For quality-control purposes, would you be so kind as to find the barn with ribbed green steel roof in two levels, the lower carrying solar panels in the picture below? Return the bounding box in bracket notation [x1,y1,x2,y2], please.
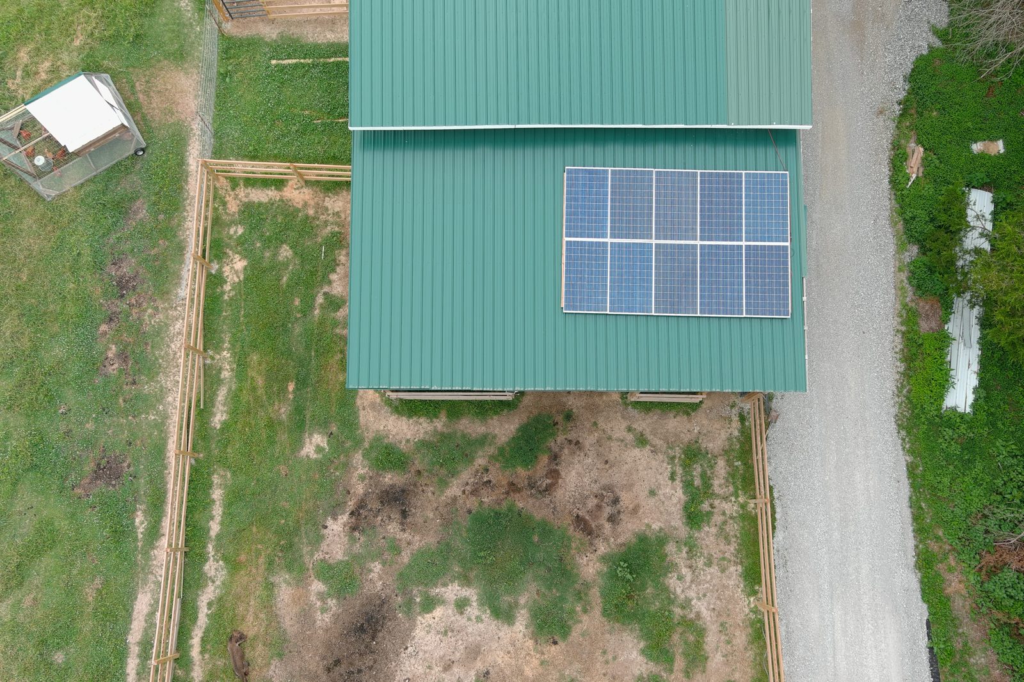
[345,0,812,396]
